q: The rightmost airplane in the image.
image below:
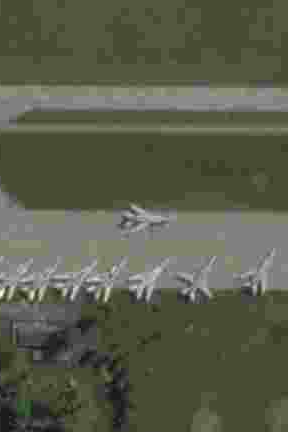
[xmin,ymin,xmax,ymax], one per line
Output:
[235,251,273,295]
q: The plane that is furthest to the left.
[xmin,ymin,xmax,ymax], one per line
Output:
[0,258,31,300]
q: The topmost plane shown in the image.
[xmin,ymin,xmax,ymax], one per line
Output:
[121,201,169,233]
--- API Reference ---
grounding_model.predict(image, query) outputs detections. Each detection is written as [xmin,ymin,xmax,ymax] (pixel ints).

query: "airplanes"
[128,259,168,300]
[19,258,58,301]
[0,258,31,300]
[87,258,126,301]
[235,251,273,295]
[177,257,216,301]
[121,201,169,233]
[56,258,96,299]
